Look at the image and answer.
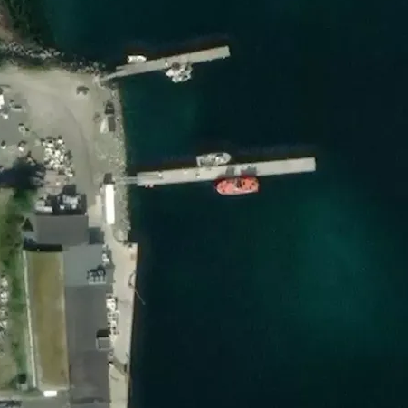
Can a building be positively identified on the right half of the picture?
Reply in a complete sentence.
No, the scene shows no building on the right half of the picture.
